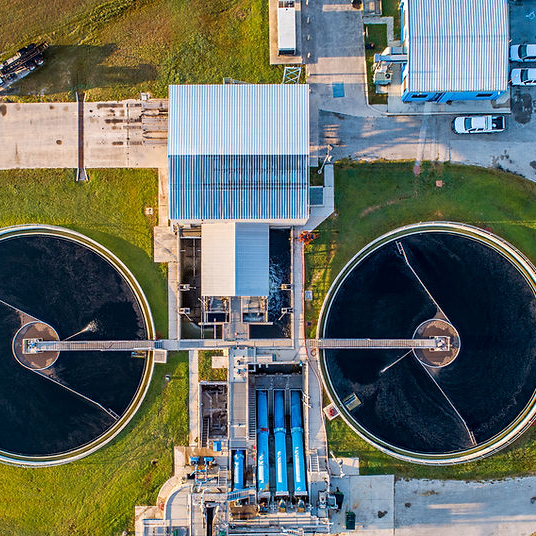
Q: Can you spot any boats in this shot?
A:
No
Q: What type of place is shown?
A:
industrial area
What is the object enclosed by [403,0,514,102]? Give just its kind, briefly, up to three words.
building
